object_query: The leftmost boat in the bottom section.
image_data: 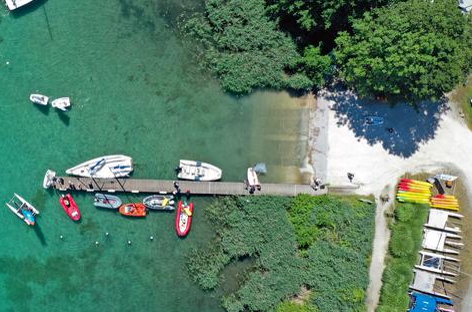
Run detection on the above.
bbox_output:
[6,193,40,225]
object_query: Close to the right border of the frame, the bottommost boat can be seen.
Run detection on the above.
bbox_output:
[409,294,453,312]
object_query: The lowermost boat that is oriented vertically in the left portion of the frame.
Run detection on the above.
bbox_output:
[177,199,195,237]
